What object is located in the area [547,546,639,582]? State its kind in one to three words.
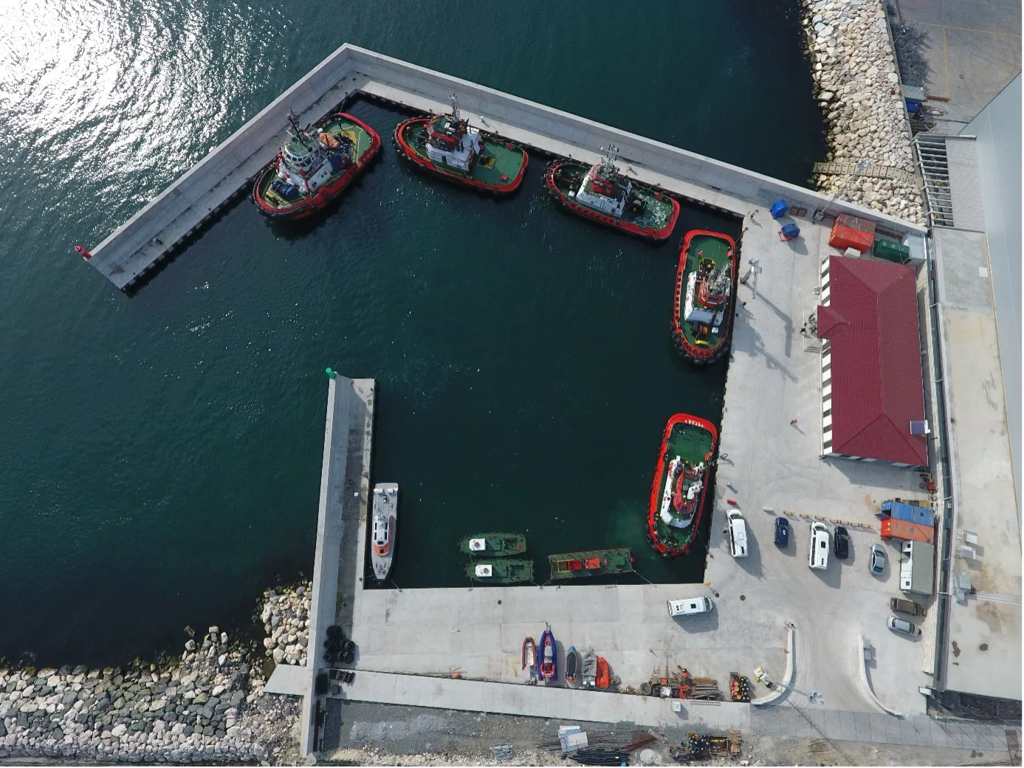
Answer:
ship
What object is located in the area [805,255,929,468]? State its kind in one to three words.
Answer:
building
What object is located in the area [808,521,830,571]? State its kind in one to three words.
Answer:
vehicle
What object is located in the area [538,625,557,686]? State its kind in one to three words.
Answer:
boat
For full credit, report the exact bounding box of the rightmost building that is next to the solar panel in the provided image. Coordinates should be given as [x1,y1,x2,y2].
[921,227,1024,701]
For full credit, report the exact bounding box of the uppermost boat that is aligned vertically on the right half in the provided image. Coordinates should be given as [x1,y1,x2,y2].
[673,233,738,365]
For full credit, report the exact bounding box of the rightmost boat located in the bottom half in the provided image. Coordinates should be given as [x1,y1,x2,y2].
[647,414,716,558]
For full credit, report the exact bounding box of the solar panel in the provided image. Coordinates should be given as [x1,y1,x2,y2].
[908,420,929,436]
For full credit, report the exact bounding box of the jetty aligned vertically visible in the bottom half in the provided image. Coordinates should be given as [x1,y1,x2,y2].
[306,376,378,669]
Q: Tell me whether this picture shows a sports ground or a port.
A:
port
